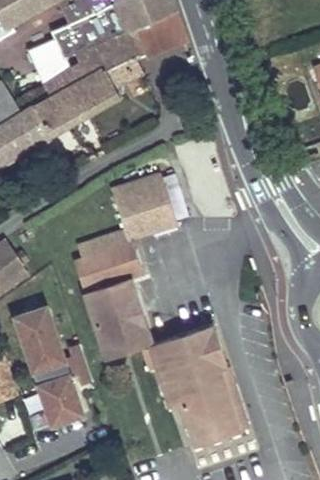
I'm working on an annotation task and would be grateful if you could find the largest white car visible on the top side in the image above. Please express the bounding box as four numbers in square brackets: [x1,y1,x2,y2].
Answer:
[250,180,266,201]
